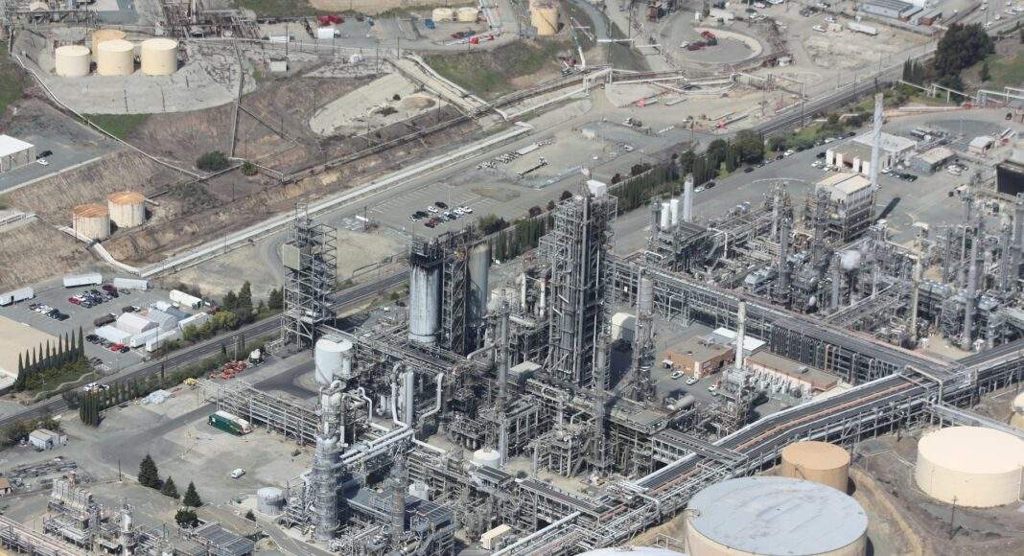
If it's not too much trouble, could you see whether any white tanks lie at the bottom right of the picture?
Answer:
Yes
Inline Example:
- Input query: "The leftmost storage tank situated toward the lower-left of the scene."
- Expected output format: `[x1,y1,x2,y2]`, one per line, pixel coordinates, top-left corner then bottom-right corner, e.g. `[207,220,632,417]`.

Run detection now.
[253,486,285,517]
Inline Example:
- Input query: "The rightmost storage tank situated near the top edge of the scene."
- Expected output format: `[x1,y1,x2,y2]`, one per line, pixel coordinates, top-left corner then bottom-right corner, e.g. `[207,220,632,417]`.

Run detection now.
[528,0,560,38]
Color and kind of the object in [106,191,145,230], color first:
white storage tank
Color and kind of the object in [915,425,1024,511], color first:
white storage tank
